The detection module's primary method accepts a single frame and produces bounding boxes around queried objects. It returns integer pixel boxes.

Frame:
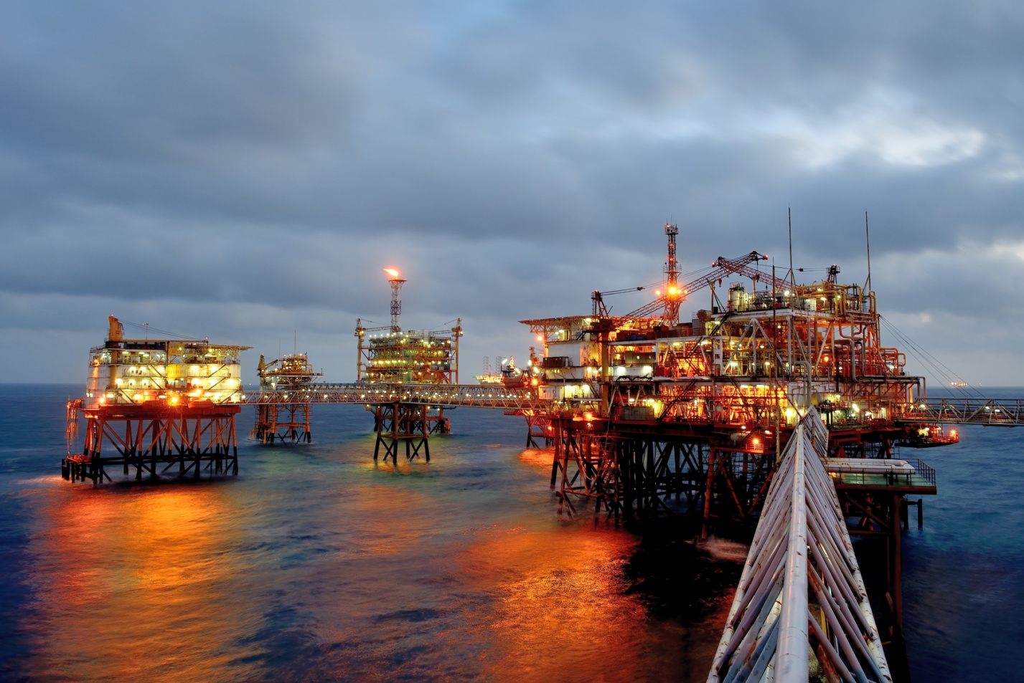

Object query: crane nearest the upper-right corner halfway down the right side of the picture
[711,258,839,338]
